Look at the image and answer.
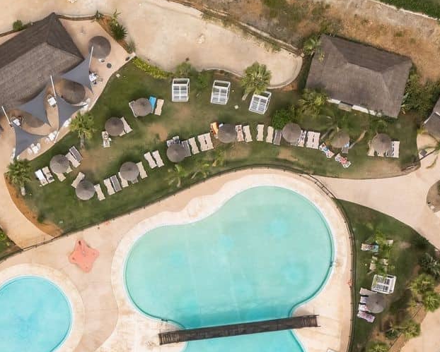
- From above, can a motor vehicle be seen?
No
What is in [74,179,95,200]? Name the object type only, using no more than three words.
umbrella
